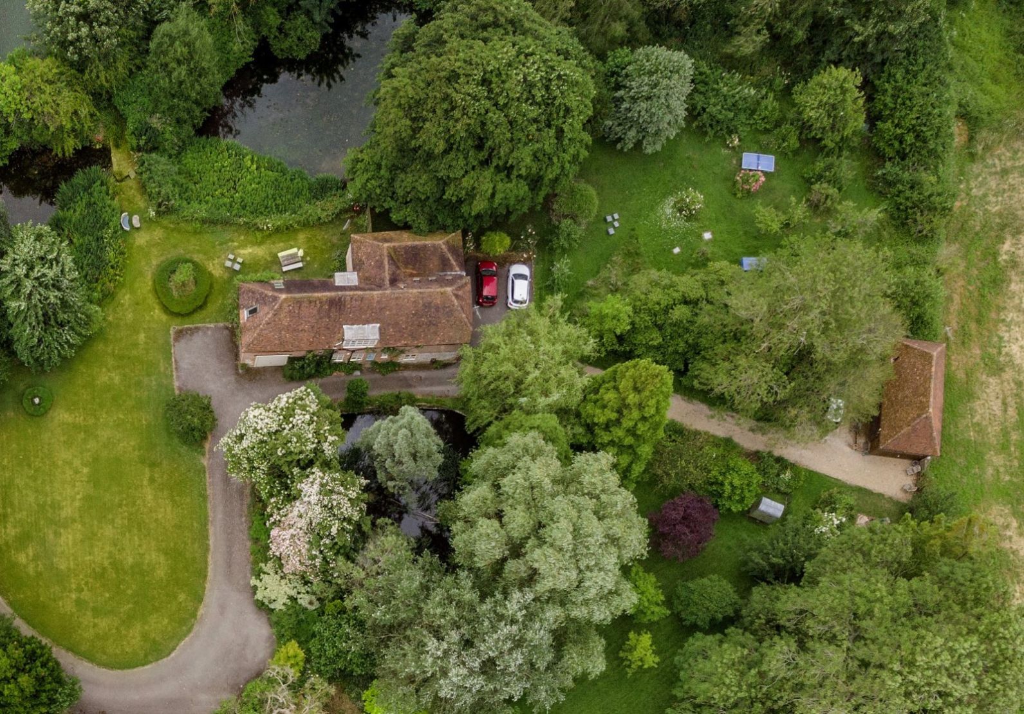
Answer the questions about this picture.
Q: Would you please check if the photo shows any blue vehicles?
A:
No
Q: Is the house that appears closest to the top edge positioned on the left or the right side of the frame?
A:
left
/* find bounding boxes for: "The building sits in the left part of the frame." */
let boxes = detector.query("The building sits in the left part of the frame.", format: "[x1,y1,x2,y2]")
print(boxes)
[239,229,473,368]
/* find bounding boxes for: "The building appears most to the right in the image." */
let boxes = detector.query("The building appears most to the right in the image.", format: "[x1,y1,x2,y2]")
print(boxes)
[868,337,946,460]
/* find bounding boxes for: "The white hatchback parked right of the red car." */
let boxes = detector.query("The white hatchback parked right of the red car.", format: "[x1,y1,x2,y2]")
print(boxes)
[507,264,534,313]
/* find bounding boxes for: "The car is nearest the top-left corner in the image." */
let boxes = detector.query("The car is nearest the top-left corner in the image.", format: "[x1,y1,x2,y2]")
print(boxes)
[477,261,502,308]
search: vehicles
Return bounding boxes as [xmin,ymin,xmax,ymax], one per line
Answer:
[477,261,502,308]
[507,264,534,313]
